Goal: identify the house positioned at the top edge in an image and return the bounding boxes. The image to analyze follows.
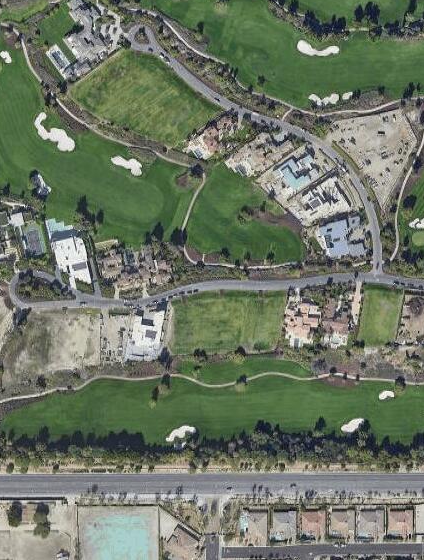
[63,0,108,77]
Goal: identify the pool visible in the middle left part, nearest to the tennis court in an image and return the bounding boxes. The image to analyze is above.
[48,218,73,235]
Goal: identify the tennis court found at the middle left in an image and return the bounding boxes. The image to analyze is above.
[23,224,46,255]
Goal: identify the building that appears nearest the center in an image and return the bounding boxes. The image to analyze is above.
[139,244,173,284]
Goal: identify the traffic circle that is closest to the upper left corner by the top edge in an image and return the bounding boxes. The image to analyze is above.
[127,22,169,60]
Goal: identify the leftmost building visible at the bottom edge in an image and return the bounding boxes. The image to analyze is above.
[166,526,198,560]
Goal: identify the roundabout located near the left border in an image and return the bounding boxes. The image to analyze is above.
[8,269,81,309]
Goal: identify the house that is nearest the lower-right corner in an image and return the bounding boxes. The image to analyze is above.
[388,510,414,537]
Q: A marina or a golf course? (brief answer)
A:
golf course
